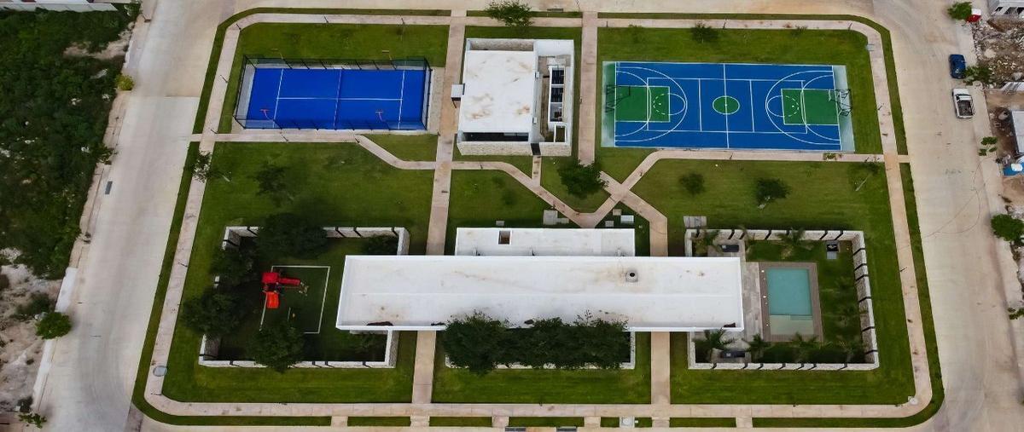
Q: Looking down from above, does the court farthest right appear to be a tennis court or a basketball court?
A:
basketball court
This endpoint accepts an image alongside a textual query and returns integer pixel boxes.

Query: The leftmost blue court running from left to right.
[230,56,446,137]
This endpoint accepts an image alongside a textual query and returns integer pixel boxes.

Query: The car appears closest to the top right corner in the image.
[947,53,966,79]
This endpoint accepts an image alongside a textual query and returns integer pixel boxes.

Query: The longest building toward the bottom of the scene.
[336,226,745,340]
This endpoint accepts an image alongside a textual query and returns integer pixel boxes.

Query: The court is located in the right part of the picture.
[601,61,855,150]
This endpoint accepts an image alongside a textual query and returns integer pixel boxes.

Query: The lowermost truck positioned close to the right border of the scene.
[954,86,975,119]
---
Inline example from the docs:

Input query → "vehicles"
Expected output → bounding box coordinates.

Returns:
[947,53,966,79]
[954,86,975,119]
